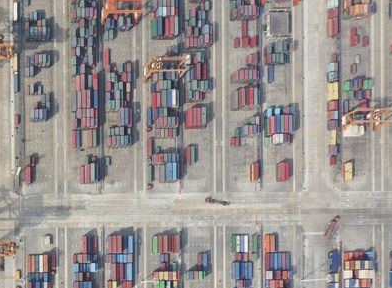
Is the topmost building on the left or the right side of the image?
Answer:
right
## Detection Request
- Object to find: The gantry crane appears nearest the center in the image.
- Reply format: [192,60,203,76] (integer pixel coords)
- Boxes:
[143,55,191,84]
